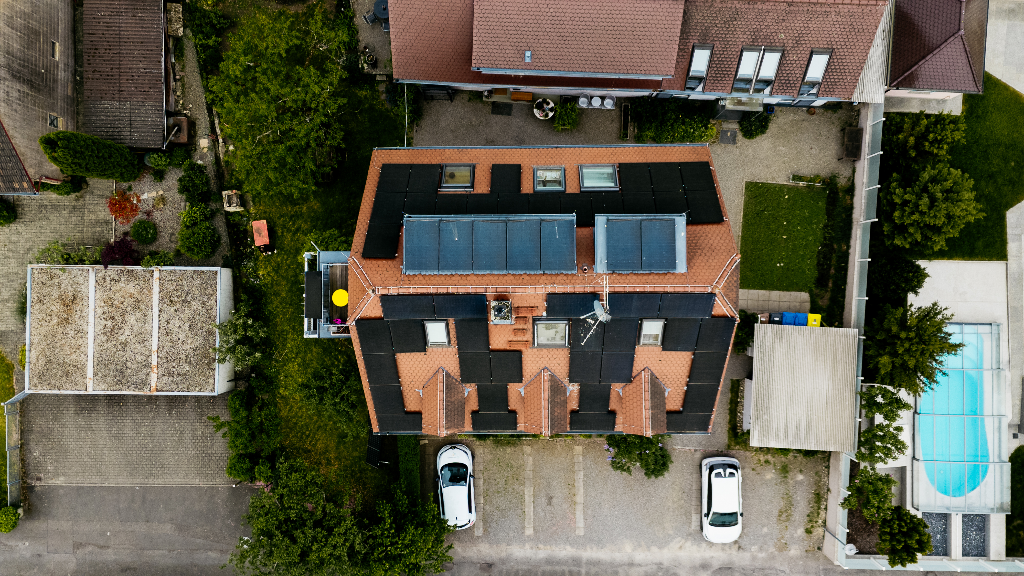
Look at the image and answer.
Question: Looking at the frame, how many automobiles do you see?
2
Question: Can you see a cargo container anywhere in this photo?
No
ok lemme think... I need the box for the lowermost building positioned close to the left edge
[28,264,237,395]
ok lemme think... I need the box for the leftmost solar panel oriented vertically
[302,272,322,318]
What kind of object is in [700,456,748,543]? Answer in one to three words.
car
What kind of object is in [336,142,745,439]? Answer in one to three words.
house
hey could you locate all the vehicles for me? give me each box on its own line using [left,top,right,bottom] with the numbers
[700,456,748,543]
[435,443,478,531]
